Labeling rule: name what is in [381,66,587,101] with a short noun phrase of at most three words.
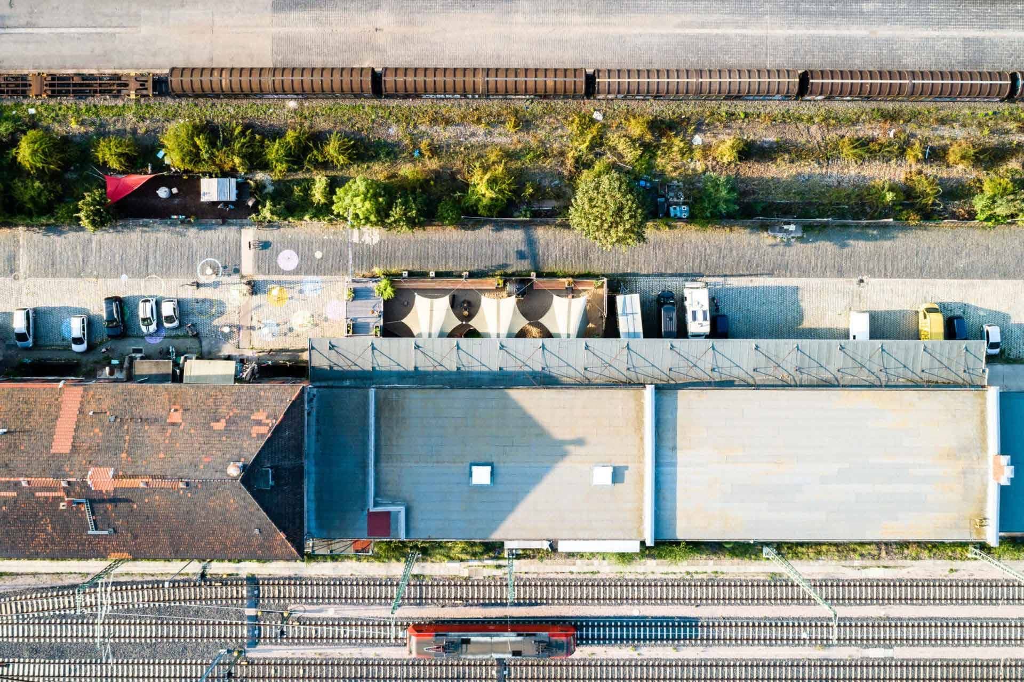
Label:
rail car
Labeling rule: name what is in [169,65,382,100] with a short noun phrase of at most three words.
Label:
rail car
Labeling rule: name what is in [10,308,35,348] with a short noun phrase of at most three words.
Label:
car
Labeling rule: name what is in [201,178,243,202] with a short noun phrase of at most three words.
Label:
shed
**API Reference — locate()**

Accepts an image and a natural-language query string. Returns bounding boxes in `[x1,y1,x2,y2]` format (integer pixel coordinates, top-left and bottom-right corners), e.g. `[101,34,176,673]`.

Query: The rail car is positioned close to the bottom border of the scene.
[406,623,580,660]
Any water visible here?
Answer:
No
